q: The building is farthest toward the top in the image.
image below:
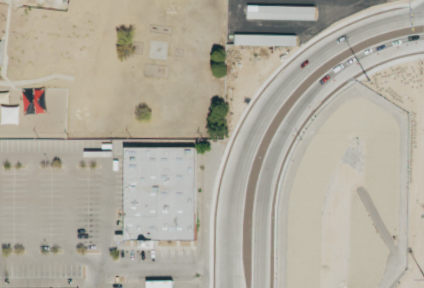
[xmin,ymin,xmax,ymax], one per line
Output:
[246,6,316,21]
